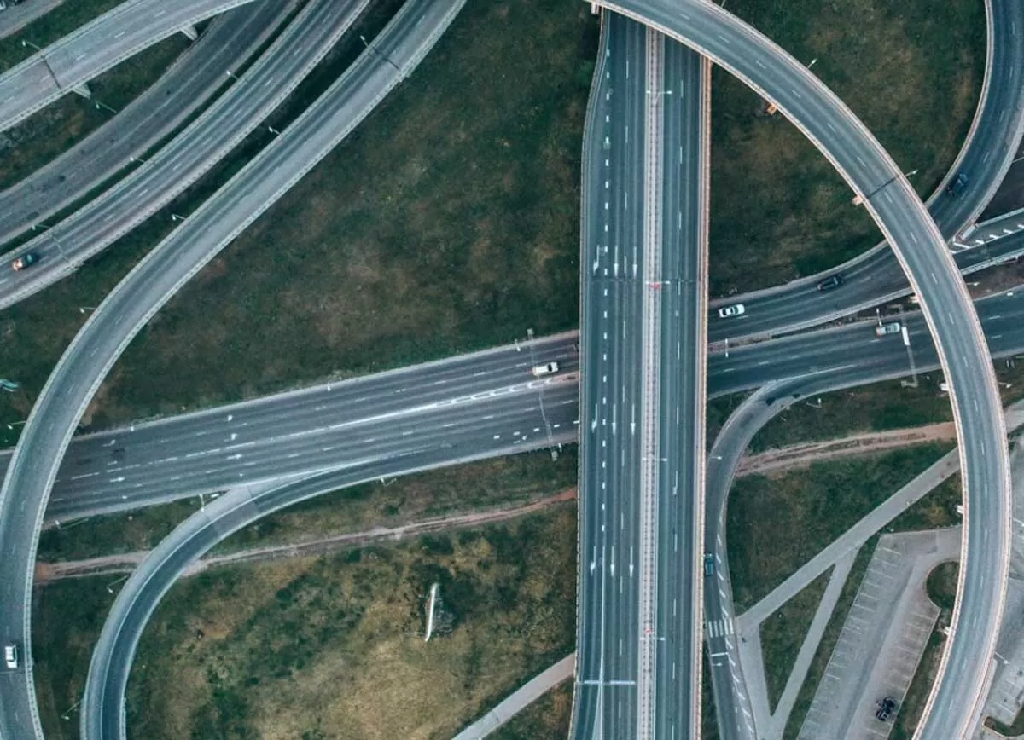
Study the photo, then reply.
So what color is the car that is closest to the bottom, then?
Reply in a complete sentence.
The color of the car that is closest to the bottom is black.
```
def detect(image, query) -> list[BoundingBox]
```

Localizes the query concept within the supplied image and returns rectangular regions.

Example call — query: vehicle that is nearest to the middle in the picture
[531,361,559,376]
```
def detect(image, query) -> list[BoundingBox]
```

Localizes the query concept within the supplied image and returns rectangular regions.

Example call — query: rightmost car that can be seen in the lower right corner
[876,697,897,725]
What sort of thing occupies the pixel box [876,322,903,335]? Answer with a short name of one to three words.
vehicle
